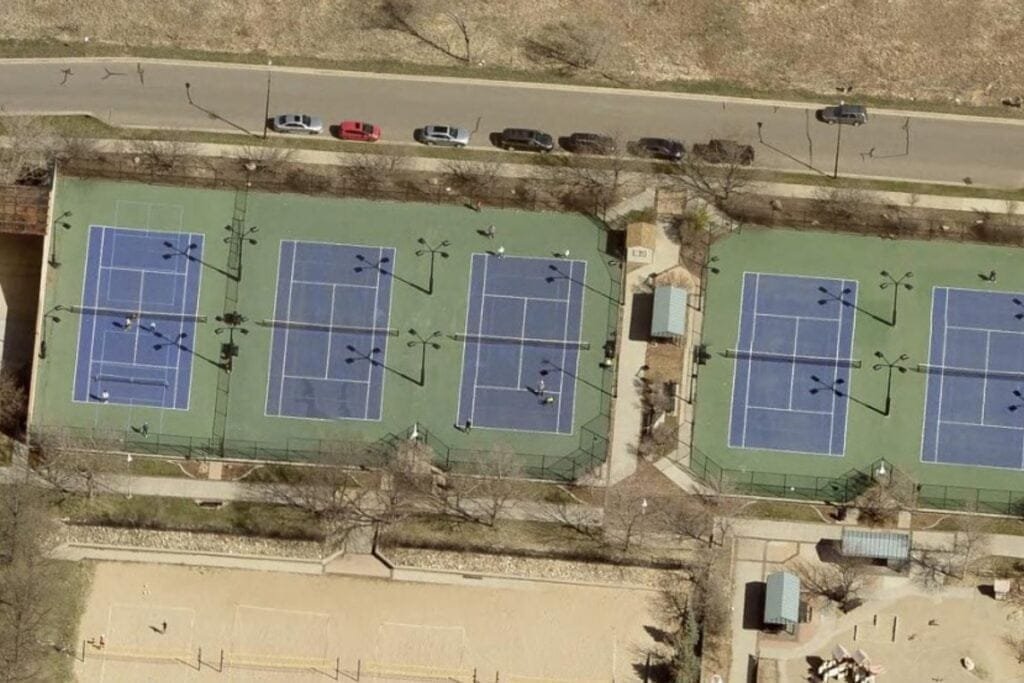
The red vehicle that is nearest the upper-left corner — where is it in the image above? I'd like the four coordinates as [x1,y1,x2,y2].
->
[341,120,383,141]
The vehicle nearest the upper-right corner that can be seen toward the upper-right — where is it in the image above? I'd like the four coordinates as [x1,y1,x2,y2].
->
[820,103,867,127]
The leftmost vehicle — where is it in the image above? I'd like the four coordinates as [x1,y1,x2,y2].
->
[275,113,324,135]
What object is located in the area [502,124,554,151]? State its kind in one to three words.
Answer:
car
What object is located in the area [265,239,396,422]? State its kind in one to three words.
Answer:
tennis court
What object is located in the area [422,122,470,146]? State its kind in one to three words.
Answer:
car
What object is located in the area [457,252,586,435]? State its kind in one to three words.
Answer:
tennis court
